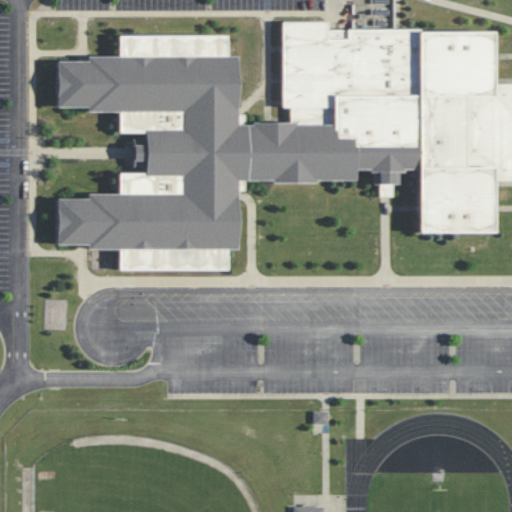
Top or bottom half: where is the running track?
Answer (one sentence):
The running track is in the bottom half of the image.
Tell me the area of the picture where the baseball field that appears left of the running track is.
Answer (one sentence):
The baseball field that appears left of the running track appears toward the bottom left of the photo.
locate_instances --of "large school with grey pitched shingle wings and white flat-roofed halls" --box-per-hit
[58,22,512,272]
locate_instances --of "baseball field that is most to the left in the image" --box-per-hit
[23,434,256,512]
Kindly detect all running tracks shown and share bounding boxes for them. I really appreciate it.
[346,412,512,512]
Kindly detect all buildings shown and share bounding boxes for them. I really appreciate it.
[58,22,512,272]
[314,411,329,432]
[293,507,324,512]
